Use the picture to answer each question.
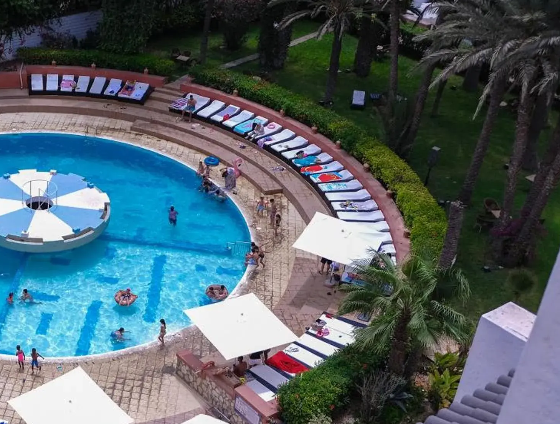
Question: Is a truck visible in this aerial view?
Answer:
No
